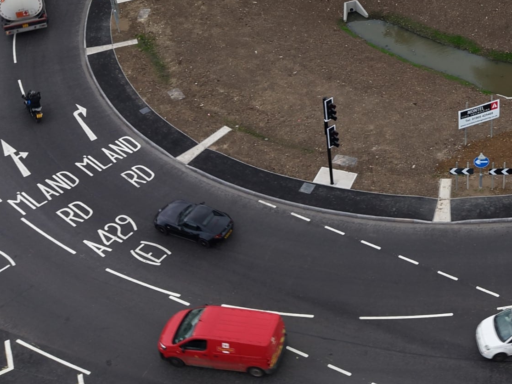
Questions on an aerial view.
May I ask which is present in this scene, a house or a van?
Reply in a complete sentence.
I can see a van in this picture.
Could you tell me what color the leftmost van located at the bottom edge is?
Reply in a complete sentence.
From above, the leftmost van located at the bottom edge appears red.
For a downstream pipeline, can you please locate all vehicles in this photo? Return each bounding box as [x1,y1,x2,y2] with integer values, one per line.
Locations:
[0,0,47,33]
[150,198,237,247]
[18,89,40,120]
[478,305,512,362]
[159,305,292,378]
